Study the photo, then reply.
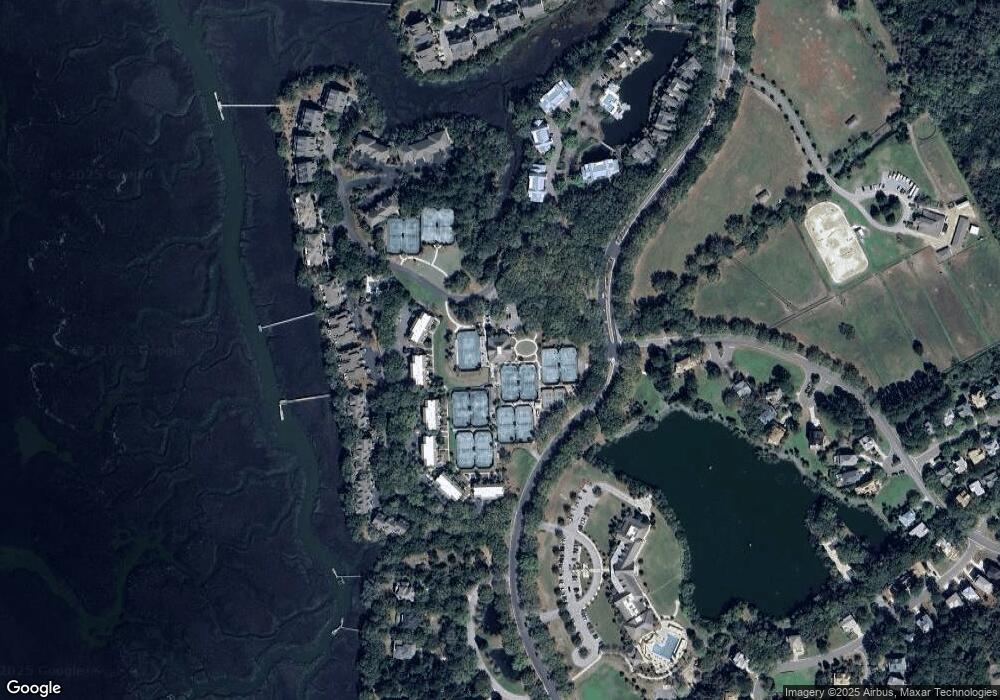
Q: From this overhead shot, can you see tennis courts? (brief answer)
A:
Yes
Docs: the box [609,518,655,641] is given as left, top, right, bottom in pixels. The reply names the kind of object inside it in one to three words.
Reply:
building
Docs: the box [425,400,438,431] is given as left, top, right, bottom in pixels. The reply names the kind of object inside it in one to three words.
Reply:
house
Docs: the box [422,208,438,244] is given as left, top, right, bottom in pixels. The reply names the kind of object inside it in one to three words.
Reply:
tennis court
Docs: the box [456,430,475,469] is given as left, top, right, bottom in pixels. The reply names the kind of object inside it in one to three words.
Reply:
tennis court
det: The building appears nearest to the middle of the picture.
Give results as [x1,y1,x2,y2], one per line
[487,333,514,364]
